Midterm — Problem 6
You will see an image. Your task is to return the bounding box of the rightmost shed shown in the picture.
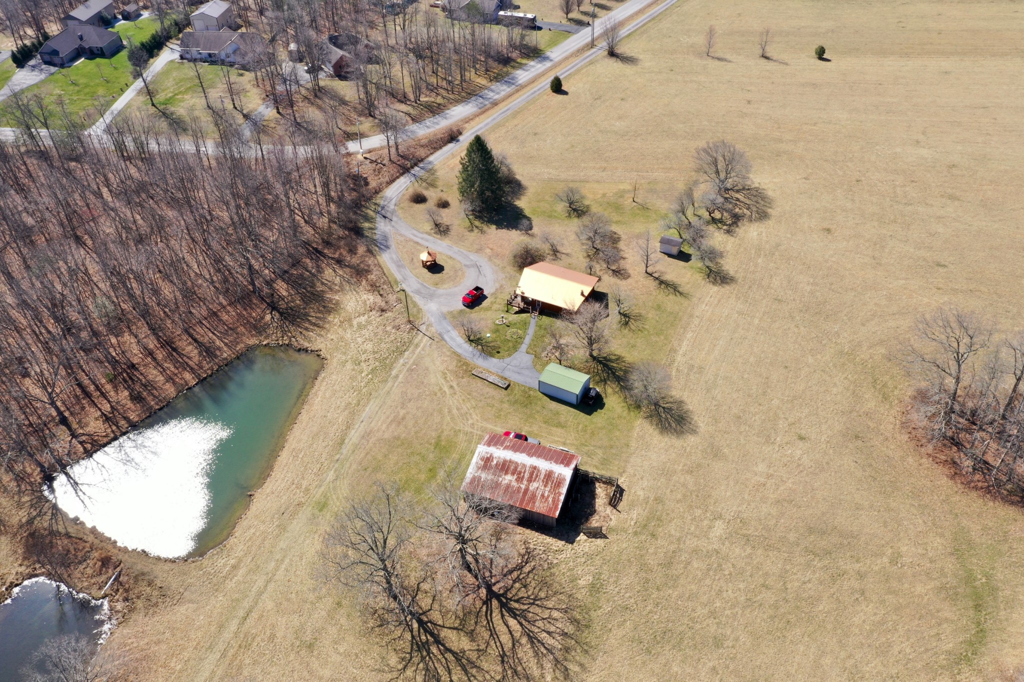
[660,235,683,256]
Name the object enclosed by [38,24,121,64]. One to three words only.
house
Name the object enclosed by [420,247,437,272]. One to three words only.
gazebo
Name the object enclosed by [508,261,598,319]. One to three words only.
building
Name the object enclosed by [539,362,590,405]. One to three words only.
building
